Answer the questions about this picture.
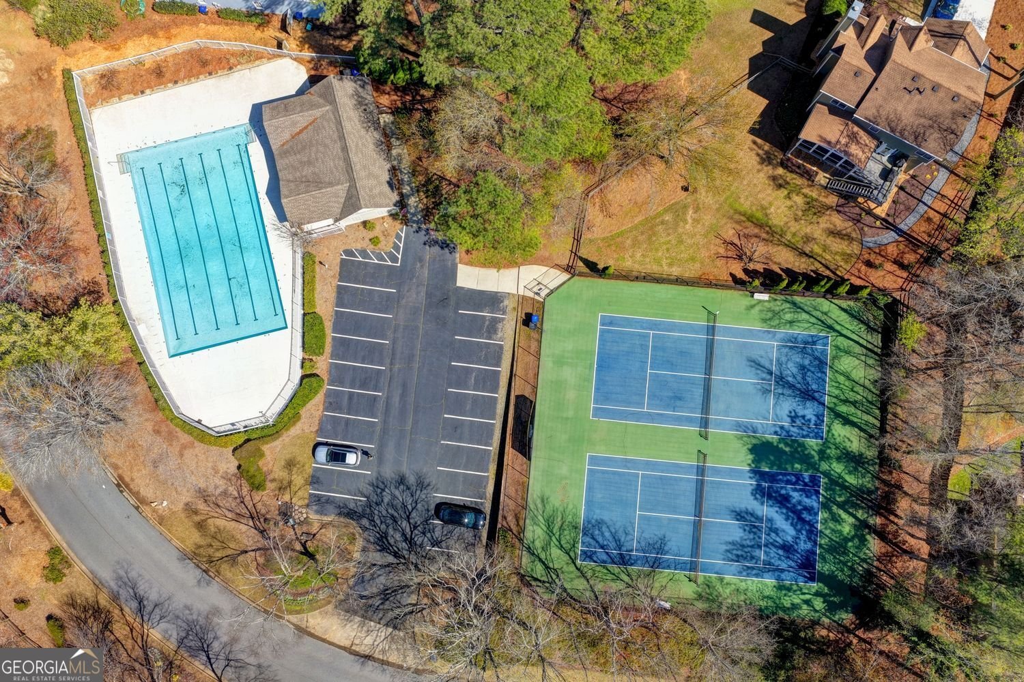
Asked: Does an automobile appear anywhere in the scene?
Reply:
Yes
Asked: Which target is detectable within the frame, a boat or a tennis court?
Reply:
tennis court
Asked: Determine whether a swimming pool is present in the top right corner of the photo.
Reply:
No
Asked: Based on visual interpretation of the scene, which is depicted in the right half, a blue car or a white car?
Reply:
blue car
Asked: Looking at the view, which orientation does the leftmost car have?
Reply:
horizontally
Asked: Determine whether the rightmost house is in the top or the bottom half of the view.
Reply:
top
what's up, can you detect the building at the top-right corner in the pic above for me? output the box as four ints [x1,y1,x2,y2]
[783,0,991,210]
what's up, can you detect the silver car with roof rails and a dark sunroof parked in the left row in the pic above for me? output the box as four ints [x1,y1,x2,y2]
[314,445,360,468]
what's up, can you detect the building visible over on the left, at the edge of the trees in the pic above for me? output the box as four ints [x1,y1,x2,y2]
[262,75,400,229]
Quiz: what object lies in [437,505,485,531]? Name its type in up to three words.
car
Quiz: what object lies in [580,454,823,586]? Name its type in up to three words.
tennis court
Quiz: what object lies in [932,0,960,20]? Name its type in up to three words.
car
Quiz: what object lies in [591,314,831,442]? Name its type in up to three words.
tennis court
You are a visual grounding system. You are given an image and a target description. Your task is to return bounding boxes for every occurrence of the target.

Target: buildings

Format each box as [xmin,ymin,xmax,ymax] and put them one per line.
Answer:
[262,75,400,229]
[783,0,991,210]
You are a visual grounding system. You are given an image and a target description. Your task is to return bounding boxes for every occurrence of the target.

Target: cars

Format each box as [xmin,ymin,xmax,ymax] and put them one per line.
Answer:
[314,445,360,468]
[437,505,485,531]
[932,0,960,20]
